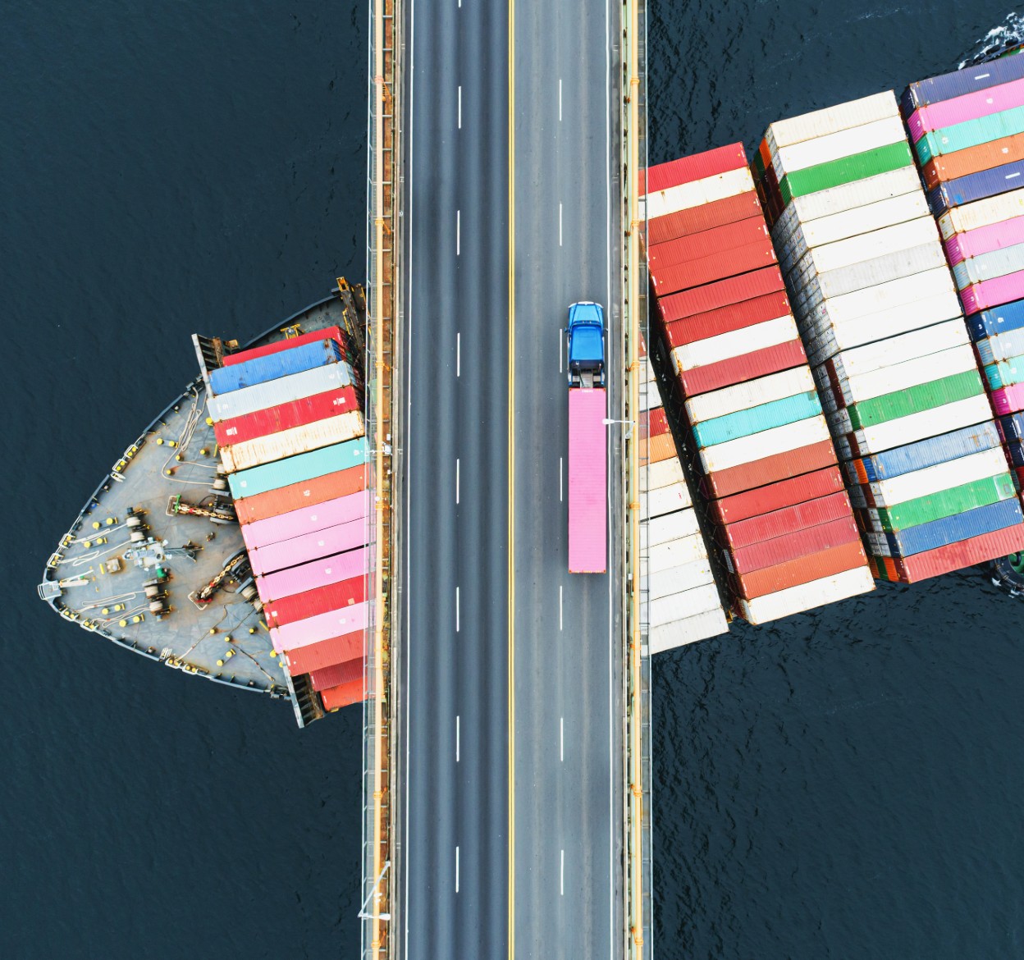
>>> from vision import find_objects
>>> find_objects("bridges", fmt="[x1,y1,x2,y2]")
[361,0,653,960]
